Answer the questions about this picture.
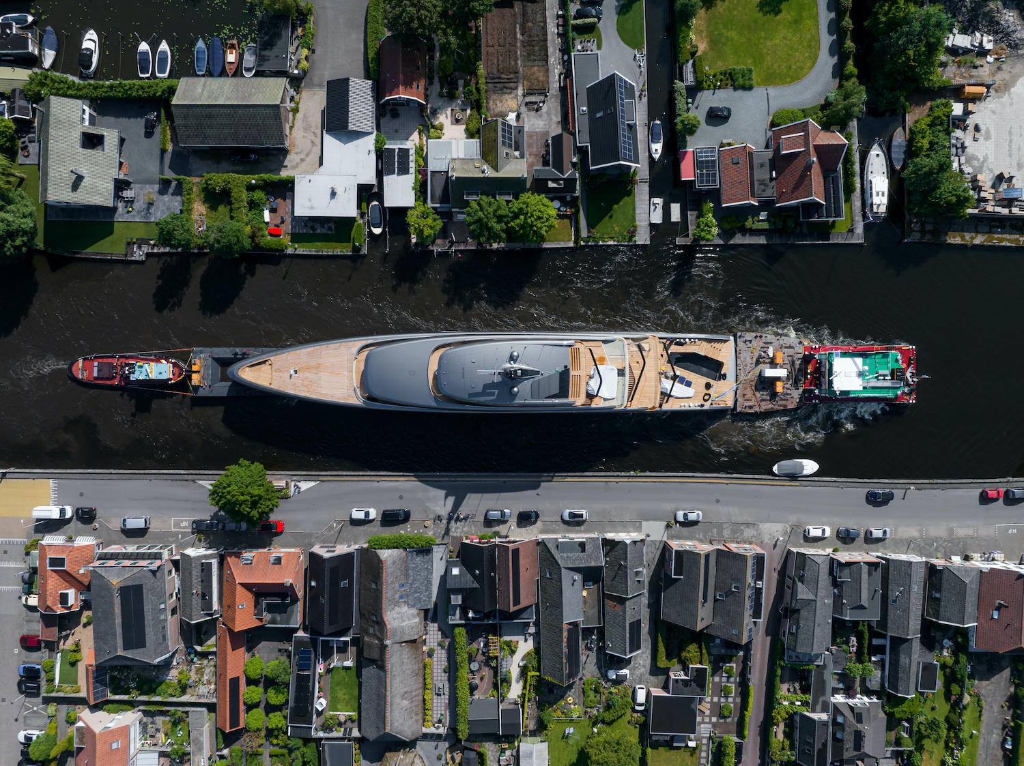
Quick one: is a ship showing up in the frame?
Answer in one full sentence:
Yes, the photo shows a ship.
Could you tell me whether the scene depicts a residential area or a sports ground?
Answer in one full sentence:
This image shows a residential area.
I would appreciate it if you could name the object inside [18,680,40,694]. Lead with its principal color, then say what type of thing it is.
black car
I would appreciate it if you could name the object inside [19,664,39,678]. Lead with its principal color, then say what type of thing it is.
black car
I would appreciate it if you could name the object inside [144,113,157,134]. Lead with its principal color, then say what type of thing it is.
black vehicle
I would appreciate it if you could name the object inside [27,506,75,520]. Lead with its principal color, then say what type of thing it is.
white vehicle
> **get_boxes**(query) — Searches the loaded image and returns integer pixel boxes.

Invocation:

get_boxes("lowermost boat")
[772,459,820,476]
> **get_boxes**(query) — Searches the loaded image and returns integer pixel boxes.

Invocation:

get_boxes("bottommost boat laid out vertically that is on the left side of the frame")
[368,200,383,235]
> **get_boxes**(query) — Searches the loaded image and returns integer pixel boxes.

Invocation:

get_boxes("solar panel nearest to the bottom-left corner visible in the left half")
[92,667,107,702]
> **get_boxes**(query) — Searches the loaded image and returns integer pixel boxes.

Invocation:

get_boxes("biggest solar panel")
[121,585,146,650]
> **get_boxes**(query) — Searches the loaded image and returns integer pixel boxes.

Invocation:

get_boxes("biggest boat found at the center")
[231,333,737,412]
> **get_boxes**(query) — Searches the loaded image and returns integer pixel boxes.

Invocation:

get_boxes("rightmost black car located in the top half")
[706,105,731,118]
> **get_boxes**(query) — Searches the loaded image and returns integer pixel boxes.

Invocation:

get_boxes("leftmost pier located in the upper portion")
[130,244,178,260]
